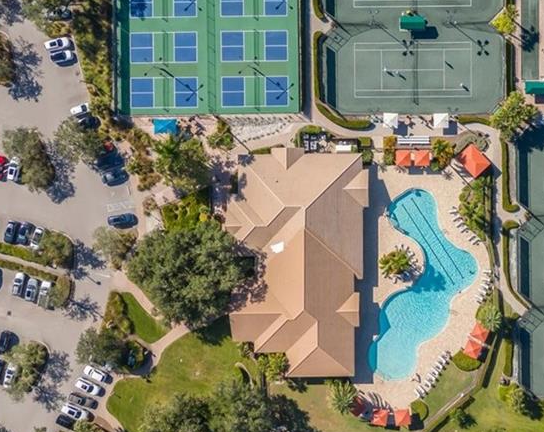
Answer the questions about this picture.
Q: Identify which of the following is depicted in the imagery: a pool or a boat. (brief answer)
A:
pool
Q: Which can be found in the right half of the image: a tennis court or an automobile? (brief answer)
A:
tennis court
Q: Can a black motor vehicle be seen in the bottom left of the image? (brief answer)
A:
Yes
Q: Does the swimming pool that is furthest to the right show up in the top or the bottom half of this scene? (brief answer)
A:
bottom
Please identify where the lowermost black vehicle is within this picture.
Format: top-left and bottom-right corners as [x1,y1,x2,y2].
[55,413,80,429]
